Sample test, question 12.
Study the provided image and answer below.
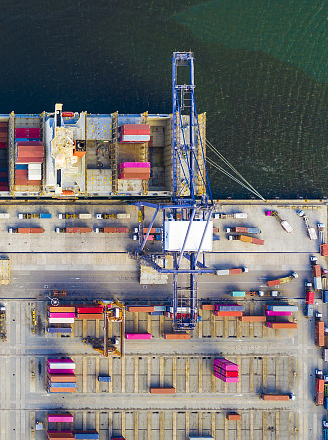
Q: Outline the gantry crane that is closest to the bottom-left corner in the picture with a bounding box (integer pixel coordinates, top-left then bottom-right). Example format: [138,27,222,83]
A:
[91,299,127,359]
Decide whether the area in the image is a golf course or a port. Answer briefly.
port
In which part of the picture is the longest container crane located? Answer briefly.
center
